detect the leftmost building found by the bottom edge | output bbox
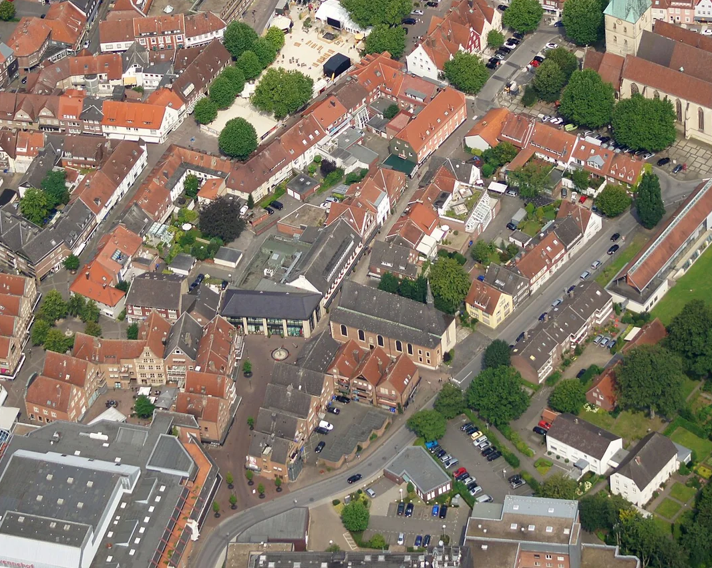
[0,409,222,568]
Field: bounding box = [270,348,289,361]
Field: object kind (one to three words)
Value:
fountain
